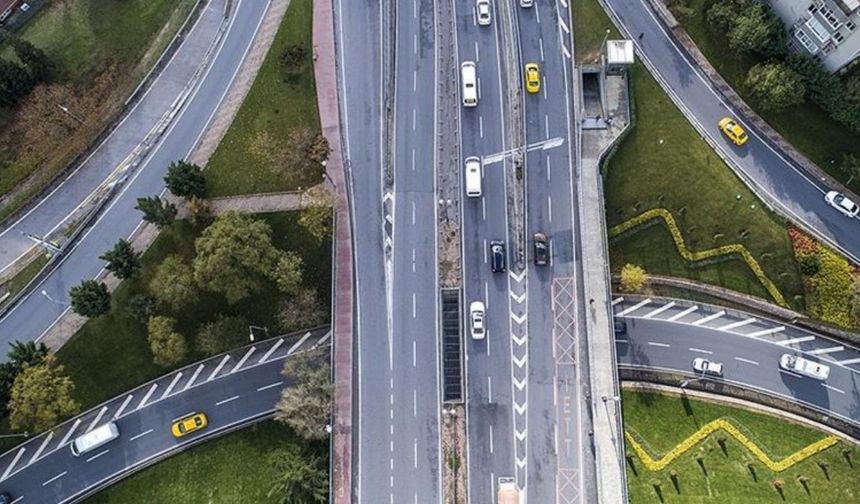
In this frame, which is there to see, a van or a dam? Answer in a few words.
van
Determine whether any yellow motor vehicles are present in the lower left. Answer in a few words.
Yes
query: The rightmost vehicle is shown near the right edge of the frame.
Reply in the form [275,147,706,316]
[824,193,857,218]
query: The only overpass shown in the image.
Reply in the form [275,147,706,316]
[311,0,627,504]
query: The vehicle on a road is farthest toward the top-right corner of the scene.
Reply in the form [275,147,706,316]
[718,118,747,146]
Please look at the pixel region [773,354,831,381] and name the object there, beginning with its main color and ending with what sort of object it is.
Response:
white vehicle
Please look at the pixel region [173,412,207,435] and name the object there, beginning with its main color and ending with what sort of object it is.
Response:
yellow car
